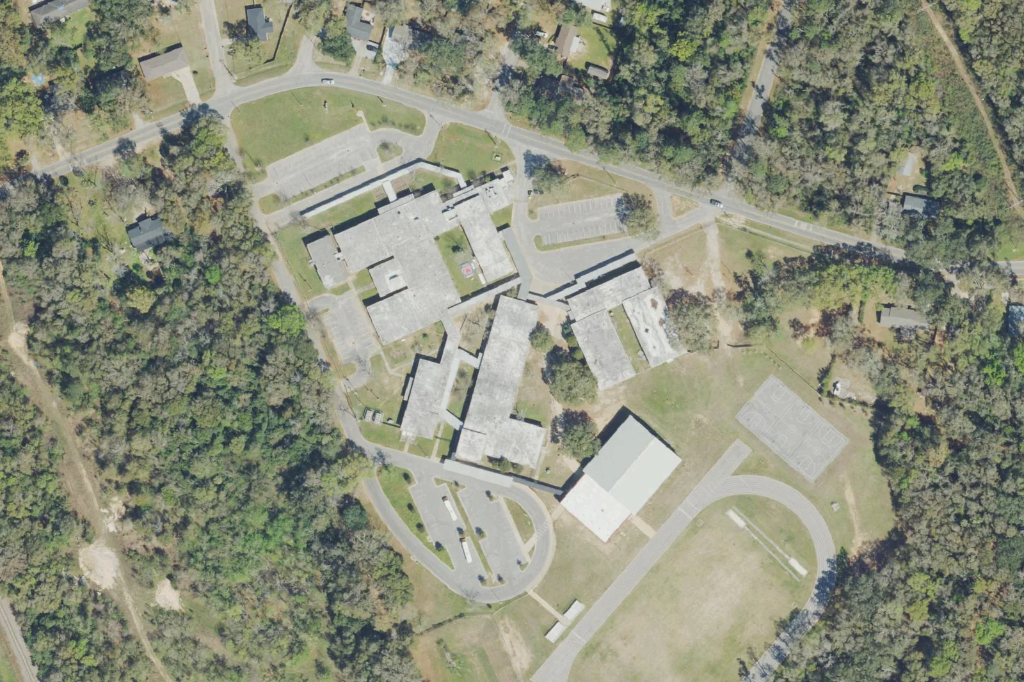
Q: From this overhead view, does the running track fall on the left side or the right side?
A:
right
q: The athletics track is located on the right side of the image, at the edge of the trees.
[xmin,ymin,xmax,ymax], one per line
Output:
[532,438,835,682]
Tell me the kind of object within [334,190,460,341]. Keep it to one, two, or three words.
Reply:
building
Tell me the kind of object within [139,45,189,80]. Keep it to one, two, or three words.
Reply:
house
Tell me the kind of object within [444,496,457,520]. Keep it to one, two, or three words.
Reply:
vehicle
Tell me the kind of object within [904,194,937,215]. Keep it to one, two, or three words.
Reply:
house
